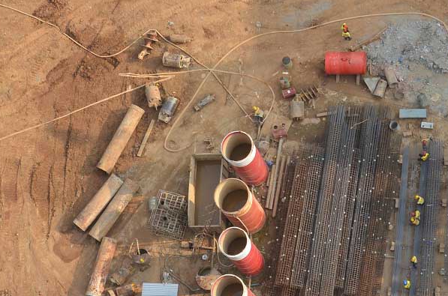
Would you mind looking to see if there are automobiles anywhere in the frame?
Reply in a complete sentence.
No, I can see no automobile in this picture.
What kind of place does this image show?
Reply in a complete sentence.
The picture captures an industrial area.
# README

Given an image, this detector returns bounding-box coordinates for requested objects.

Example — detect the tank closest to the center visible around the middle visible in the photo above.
[223,130,276,188]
